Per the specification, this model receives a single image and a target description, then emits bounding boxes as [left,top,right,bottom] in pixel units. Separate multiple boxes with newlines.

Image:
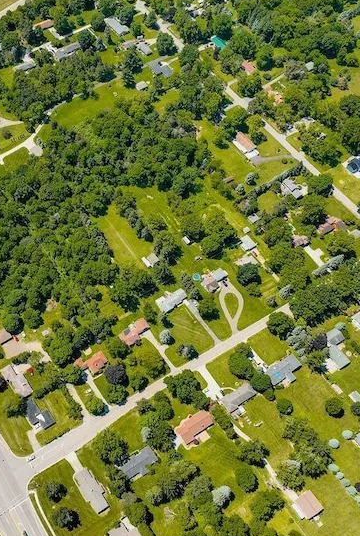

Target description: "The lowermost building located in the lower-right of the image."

[290,490,323,520]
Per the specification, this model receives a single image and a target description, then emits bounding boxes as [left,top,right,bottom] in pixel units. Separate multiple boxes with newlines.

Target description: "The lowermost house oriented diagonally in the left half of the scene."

[75,467,110,514]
